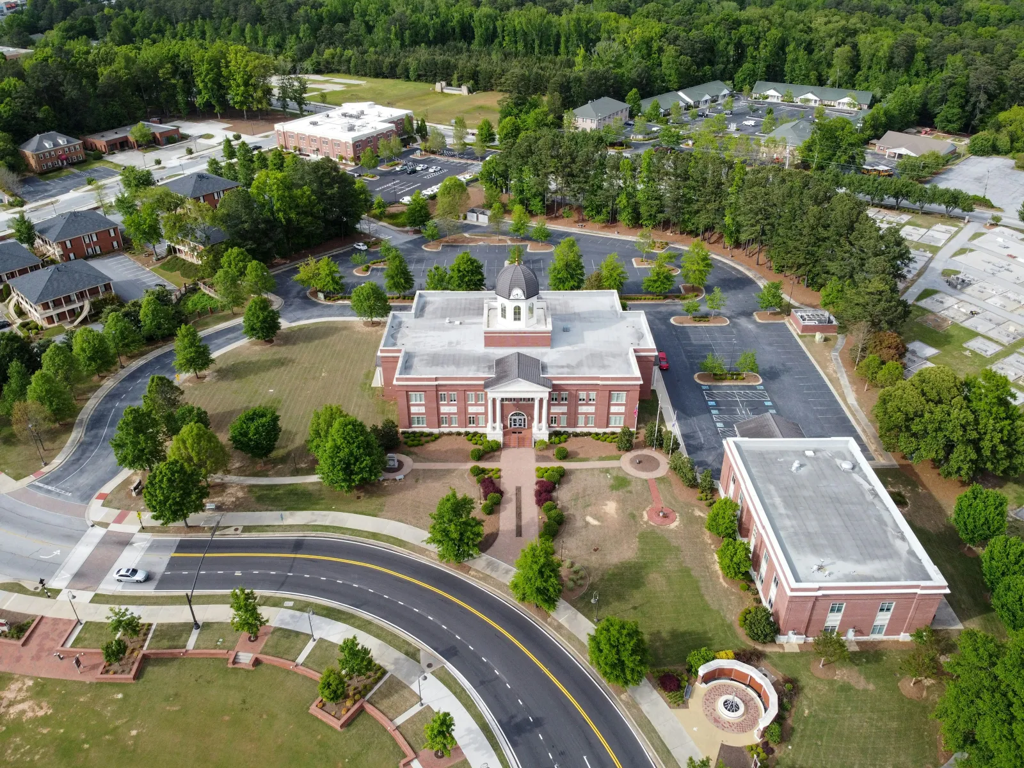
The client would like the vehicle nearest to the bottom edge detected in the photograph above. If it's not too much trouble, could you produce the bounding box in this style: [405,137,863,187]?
[108,566,150,583]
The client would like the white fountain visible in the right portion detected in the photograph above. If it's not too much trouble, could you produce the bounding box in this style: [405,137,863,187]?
[717,691,747,718]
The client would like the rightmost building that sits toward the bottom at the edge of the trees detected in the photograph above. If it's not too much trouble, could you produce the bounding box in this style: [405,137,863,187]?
[721,421,951,647]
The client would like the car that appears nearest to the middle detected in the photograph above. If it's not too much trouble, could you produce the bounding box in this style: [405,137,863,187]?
[657,355,671,369]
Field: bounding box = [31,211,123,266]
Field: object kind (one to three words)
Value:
building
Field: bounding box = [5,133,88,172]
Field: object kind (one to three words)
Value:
house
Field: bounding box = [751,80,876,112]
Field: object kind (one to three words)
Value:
building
